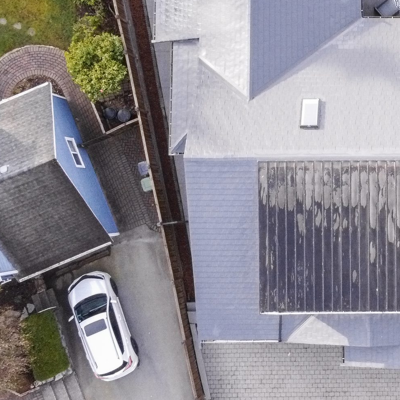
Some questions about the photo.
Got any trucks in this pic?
No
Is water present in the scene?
No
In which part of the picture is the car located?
bottom left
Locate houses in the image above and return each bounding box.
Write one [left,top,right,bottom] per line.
[149,0,400,369]
[0,80,134,298]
